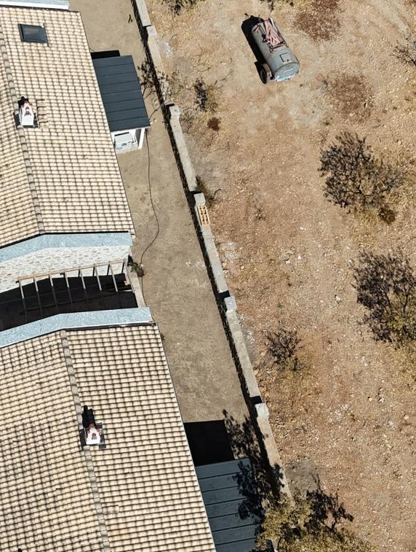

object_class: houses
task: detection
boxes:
[0,0,136,296]
[0,310,219,552]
